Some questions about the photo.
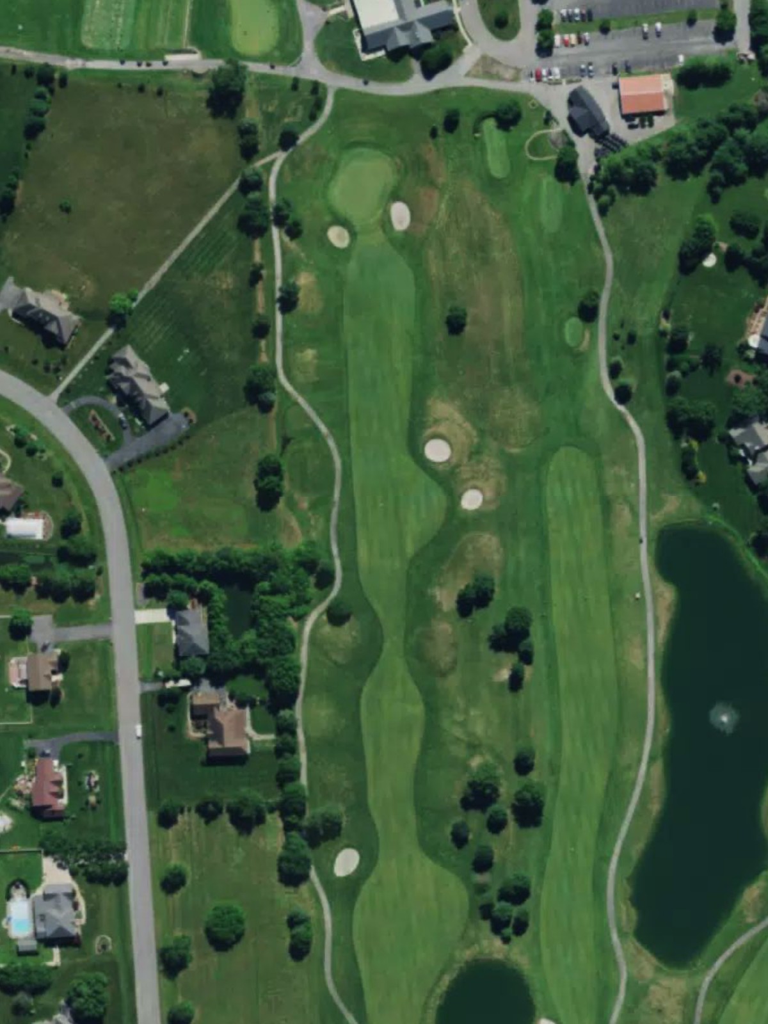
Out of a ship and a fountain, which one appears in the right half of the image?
fountain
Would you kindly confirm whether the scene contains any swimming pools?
Yes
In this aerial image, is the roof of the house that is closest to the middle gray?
Yes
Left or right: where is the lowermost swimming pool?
left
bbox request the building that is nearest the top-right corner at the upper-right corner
[620,73,666,113]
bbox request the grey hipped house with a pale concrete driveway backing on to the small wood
[175,610,208,656]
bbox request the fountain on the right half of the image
[710,705,738,733]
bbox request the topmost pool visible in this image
[1,512,52,541]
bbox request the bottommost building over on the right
[730,415,768,490]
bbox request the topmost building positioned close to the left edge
[9,285,81,343]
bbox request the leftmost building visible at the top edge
[353,0,459,54]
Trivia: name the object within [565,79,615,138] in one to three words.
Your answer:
building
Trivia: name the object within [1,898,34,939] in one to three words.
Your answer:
swimming pool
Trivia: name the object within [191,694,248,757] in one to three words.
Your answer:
house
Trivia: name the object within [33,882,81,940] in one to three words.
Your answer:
house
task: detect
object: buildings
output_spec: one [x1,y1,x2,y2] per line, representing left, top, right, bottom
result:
[730,415,768,490]
[175,610,208,656]
[0,472,23,511]
[620,73,666,113]
[31,760,64,811]
[32,1001,76,1024]
[191,694,248,757]
[21,651,63,692]
[757,321,768,359]
[353,0,459,54]
[565,79,615,138]
[9,285,81,343]
[33,882,81,940]
[107,344,173,430]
